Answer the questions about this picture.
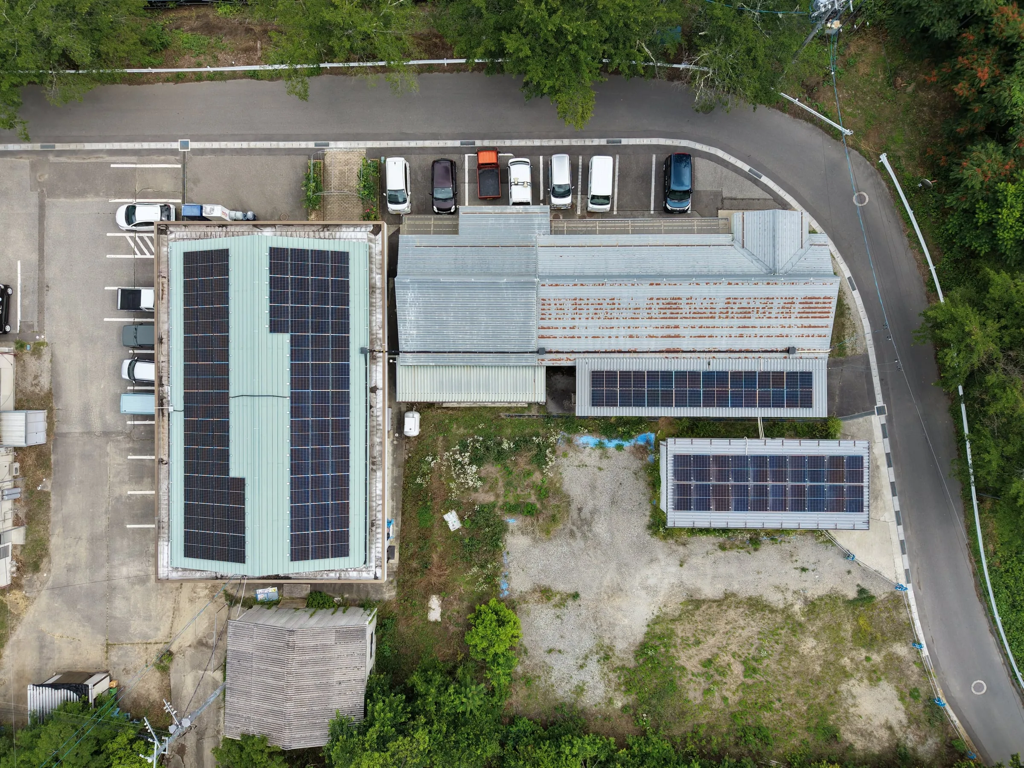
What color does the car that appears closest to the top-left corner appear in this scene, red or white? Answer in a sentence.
In this view, the car that appears closest to the top-left corner is white.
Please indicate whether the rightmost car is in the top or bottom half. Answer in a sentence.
You can find the rightmost car in the top half.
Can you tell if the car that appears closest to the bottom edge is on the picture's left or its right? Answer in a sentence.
The car that appears closest to the bottom edge sits on the left side.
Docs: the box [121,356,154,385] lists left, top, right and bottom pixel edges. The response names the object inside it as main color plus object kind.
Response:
white car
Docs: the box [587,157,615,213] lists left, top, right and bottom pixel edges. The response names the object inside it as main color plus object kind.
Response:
white car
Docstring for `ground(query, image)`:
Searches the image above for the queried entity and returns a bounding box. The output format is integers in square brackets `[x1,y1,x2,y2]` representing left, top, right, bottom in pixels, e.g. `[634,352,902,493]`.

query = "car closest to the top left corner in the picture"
[115,200,182,233]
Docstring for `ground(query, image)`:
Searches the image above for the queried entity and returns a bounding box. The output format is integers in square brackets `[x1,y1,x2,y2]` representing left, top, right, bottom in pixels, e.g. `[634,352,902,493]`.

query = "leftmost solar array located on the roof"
[181,248,248,564]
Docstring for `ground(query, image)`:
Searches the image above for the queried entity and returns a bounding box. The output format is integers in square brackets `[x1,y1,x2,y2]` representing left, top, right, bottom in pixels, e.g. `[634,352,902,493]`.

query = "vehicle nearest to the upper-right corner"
[662,155,695,214]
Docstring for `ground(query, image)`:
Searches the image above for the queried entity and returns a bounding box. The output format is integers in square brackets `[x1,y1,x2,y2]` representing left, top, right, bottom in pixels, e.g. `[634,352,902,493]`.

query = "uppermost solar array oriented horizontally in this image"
[591,369,815,410]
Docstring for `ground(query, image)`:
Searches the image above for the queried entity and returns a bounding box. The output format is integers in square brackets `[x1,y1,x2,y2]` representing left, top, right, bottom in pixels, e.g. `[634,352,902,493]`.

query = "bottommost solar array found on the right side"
[673,453,866,512]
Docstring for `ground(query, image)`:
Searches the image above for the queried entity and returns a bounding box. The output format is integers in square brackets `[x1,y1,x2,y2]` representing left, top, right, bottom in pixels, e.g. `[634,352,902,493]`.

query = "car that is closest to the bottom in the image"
[120,392,154,415]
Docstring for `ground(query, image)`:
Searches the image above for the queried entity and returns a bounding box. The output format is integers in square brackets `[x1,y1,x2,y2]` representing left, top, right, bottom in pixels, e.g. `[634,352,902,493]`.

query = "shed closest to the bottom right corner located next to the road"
[655,437,871,531]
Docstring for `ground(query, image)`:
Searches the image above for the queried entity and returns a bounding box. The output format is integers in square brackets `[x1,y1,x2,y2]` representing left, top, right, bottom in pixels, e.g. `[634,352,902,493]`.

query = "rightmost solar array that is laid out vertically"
[265,247,352,562]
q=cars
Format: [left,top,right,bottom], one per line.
[662,155,695,214]
[384,161,412,215]
[115,200,182,233]
[587,157,615,213]
[547,158,575,212]
[121,356,154,385]
[430,162,458,213]
[0,283,14,334]
[120,392,154,415]
[119,322,154,350]
[506,158,535,207]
